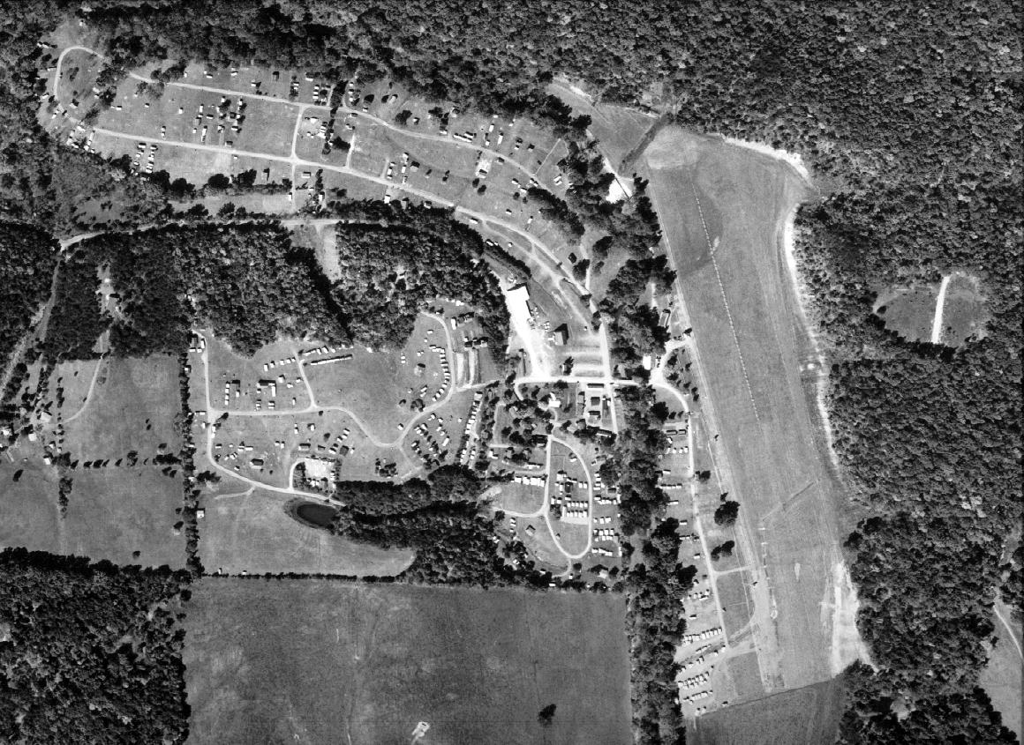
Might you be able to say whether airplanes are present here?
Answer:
No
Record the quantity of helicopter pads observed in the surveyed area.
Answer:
zero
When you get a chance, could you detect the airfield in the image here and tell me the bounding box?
[651,141,839,688]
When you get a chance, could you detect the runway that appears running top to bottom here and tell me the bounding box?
[651,141,839,688]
